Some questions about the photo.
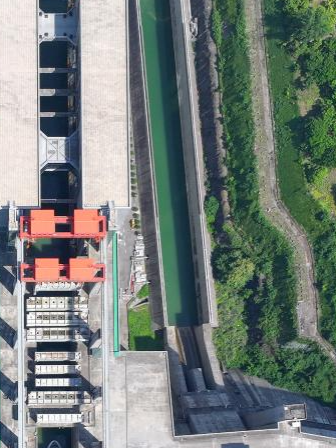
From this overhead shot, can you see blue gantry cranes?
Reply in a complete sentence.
No, the picture doesn't show any blue gantry crane.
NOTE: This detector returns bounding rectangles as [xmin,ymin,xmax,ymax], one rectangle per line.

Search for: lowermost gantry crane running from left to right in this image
[20,259,106,283]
